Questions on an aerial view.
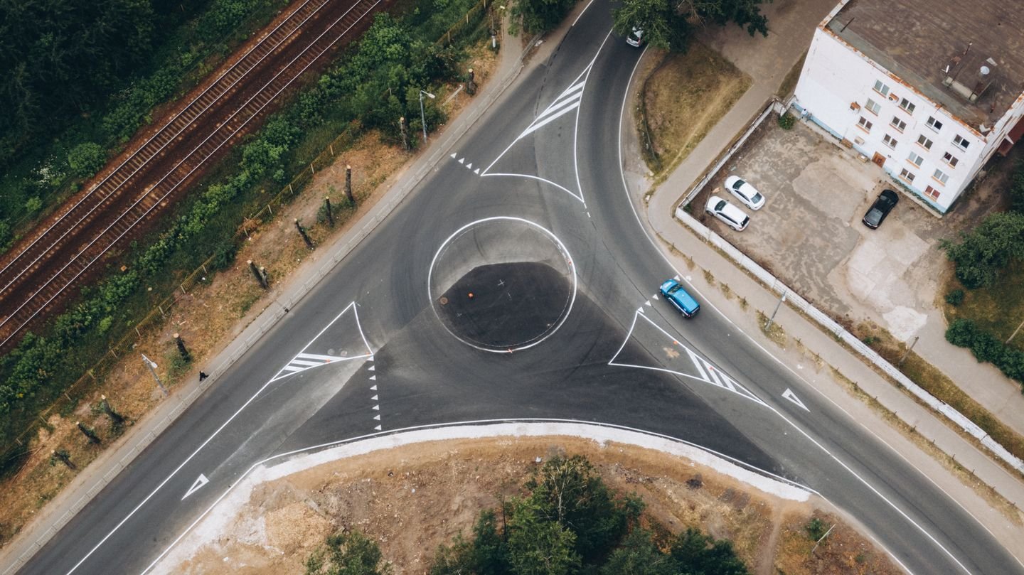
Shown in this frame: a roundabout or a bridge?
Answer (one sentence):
The one in the frame is a roundabout.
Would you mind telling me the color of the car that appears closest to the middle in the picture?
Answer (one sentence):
In this view, the car that appears closest to the middle is blue.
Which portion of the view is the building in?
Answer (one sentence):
You can find the building in the top right area of the picture.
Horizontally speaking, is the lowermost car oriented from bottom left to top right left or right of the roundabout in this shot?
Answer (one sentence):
Looking at the picture, you'll find the lowermost car oriented from bottom left to top right to the right of the roundabout.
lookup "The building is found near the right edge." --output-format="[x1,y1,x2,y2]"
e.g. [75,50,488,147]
[788,0,1024,218]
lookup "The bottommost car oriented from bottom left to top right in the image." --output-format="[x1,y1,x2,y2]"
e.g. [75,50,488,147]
[864,190,900,233]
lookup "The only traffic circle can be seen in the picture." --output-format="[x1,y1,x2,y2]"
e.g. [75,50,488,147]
[271,57,770,430]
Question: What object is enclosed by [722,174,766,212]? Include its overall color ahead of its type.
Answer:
white car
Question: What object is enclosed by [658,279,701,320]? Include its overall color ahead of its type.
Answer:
blue car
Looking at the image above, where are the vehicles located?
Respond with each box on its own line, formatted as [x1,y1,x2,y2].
[703,196,751,232]
[864,190,900,233]
[722,174,766,212]
[627,31,648,47]
[658,279,701,320]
